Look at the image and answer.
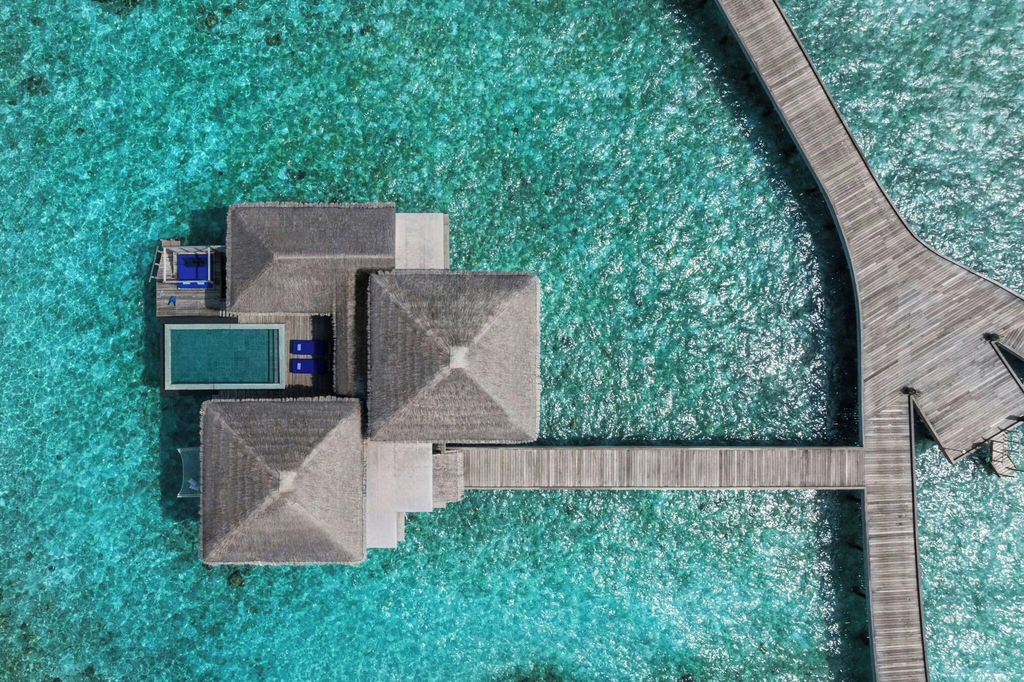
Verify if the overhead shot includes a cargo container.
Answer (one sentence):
No, there isn't any cargo container down there.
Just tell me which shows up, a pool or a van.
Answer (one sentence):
This aerial view contains a pool.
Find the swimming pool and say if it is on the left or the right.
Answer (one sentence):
It is on the left.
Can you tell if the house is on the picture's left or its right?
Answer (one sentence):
The house is on the left side of the image.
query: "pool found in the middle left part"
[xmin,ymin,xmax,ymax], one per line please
[160,317,286,396]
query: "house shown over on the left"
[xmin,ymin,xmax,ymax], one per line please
[157,199,543,567]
